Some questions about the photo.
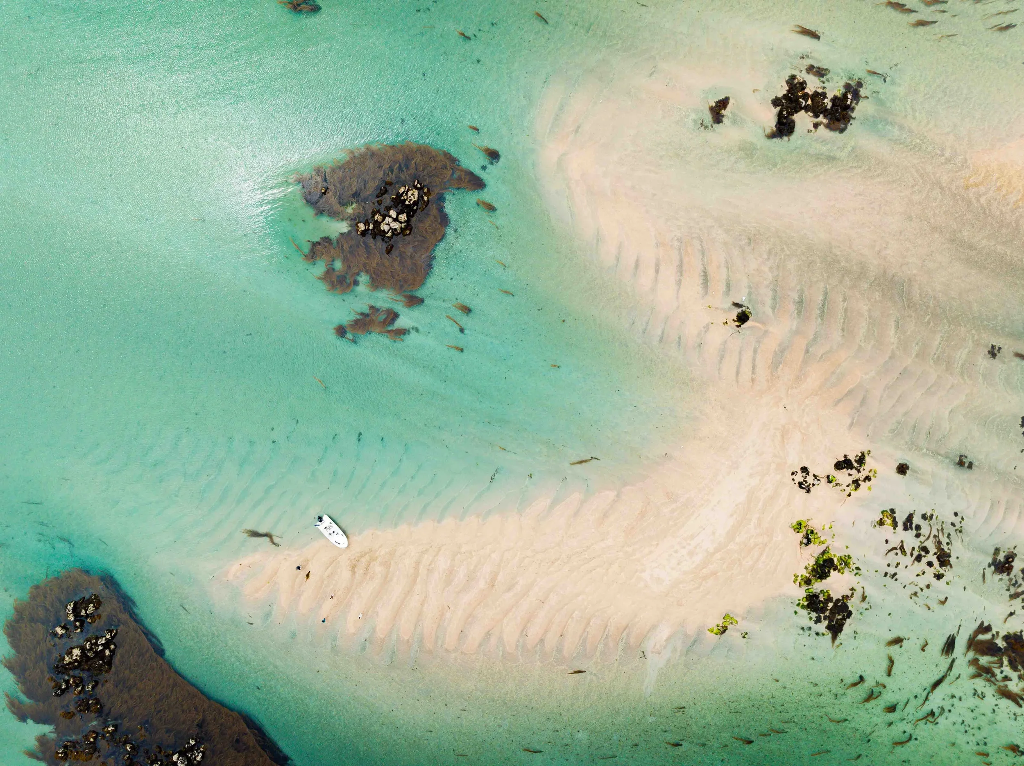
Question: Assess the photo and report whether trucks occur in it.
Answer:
No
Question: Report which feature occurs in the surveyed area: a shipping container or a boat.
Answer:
boat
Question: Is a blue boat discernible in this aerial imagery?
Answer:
No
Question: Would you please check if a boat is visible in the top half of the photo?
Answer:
No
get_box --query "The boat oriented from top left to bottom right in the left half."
[316,513,348,548]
